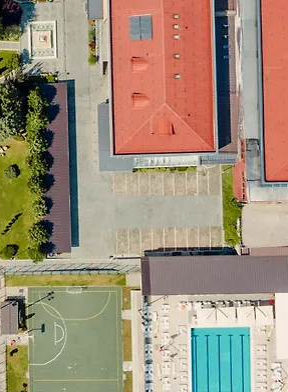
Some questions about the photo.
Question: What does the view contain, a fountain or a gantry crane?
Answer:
fountain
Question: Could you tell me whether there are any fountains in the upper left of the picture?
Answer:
Yes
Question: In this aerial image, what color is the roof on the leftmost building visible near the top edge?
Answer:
red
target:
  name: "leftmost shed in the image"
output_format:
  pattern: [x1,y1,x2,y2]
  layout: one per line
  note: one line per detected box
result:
[1,300,18,335]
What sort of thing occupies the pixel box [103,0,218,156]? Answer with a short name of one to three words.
building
